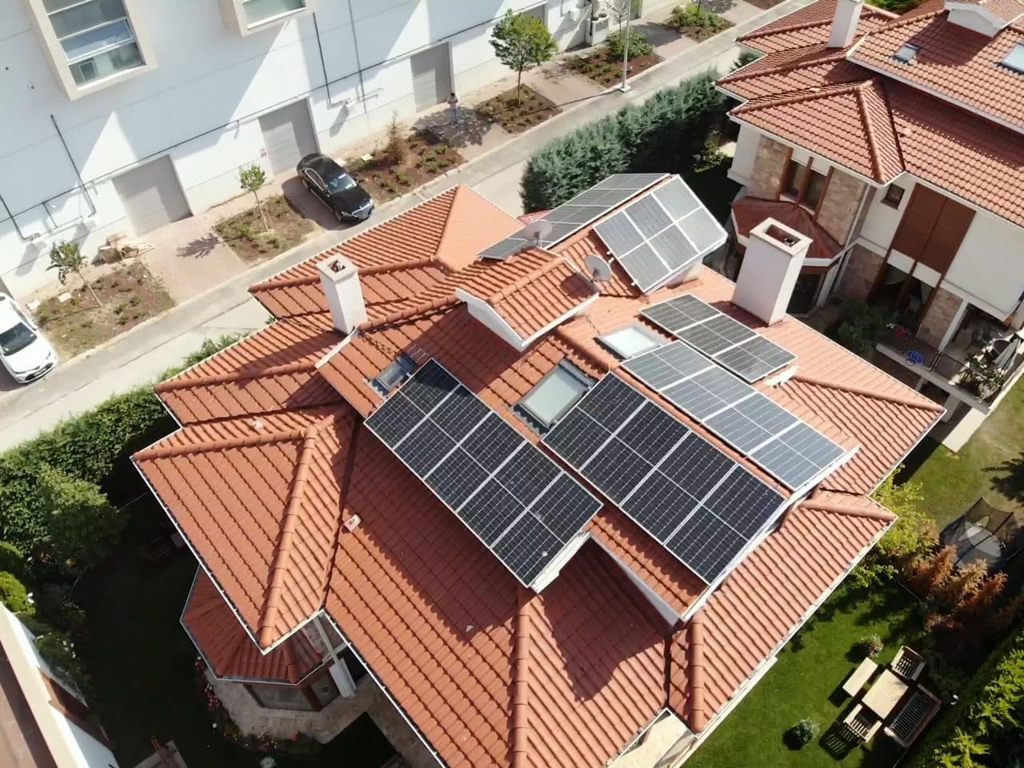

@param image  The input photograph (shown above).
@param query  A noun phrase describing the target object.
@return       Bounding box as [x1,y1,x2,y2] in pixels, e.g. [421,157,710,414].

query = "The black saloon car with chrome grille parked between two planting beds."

[291,150,375,223]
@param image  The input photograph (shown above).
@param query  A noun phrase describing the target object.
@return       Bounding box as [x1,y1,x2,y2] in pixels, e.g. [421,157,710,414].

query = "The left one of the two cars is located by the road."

[0,298,56,383]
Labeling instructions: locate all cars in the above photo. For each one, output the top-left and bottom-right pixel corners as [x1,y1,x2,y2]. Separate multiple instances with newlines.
[0,298,56,383]
[291,150,375,223]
